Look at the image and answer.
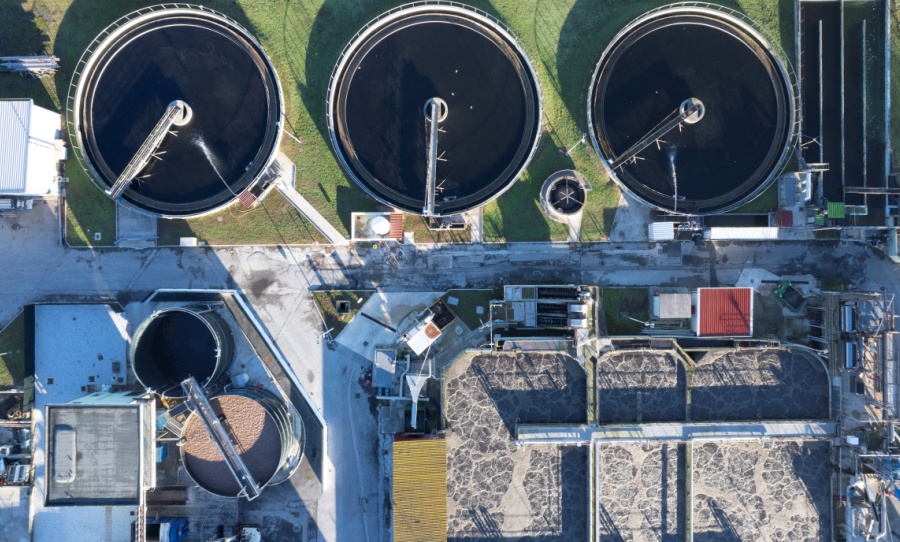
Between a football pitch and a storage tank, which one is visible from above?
storage tank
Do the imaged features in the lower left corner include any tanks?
Yes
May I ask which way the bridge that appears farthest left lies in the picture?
at an angle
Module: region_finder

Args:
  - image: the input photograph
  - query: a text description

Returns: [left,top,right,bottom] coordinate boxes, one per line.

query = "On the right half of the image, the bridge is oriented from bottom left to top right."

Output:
[604,101,704,172]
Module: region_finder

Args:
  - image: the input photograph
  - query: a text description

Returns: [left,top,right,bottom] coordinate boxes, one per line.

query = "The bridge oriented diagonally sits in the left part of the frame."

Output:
[103,102,187,200]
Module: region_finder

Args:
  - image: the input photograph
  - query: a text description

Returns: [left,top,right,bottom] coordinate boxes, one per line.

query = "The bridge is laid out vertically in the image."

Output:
[423,101,449,218]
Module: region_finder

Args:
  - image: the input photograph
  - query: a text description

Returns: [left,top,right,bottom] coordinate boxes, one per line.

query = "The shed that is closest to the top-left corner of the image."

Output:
[0,97,65,200]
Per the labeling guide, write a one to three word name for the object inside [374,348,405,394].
building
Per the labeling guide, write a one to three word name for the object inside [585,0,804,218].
storage tank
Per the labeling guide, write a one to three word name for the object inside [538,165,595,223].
storage tank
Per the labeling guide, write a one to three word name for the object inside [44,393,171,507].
building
